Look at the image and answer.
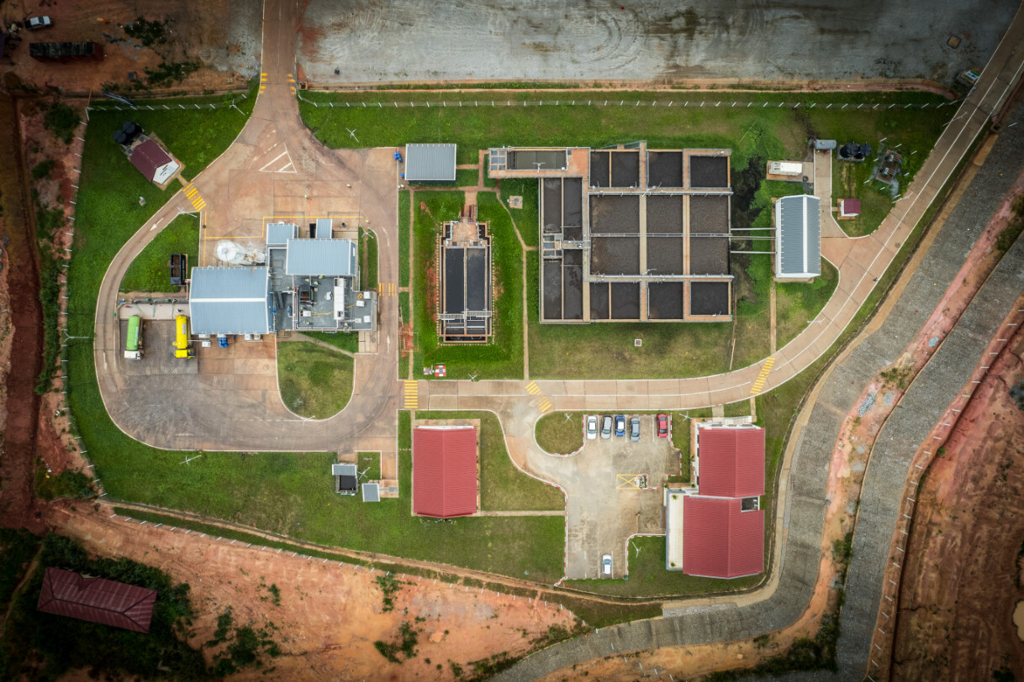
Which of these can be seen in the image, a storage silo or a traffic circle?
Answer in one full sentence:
There is a storage silo in the scene.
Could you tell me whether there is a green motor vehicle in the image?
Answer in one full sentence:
Yes, a green motor vehicle can be made out from above.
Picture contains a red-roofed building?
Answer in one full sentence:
Yes, the photo shows a red-roofed building.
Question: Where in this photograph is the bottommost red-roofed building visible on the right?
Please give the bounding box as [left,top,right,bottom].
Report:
[662,486,764,581]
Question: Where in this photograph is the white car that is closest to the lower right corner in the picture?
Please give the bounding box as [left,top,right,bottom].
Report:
[601,552,613,576]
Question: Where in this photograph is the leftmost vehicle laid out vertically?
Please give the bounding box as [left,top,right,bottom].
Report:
[123,316,148,362]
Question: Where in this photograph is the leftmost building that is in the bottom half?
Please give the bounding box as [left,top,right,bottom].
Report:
[37,567,158,633]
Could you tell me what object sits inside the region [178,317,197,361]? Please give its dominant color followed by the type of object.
yellow vehicle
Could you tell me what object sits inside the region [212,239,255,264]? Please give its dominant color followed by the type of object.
white silo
